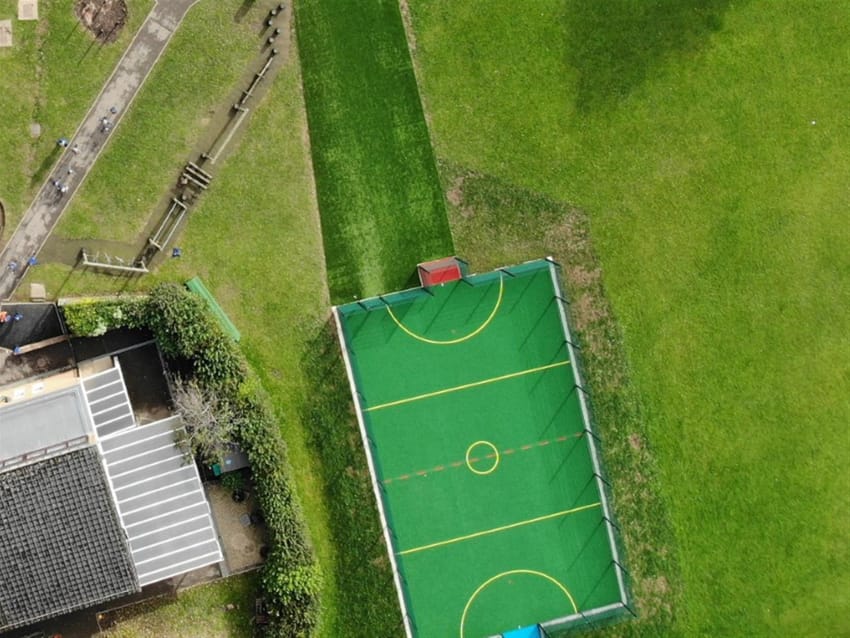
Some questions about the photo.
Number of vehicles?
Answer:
zero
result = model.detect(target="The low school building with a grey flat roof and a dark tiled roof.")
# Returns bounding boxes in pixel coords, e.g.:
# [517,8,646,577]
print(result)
[0,371,142,632]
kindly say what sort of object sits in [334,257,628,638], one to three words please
sports court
